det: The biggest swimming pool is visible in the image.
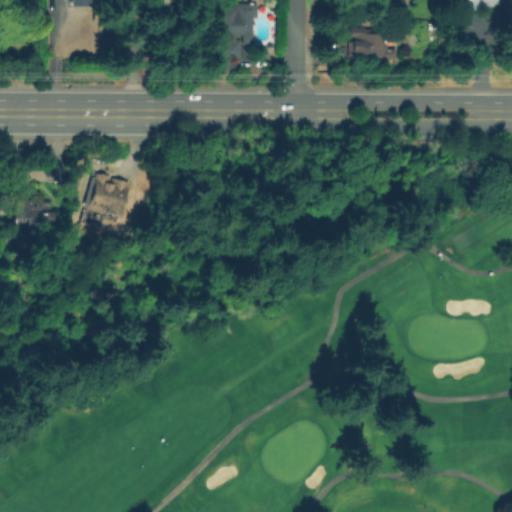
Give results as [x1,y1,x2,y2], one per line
[255,5,276,47]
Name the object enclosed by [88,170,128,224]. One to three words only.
house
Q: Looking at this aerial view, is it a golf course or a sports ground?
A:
golf course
